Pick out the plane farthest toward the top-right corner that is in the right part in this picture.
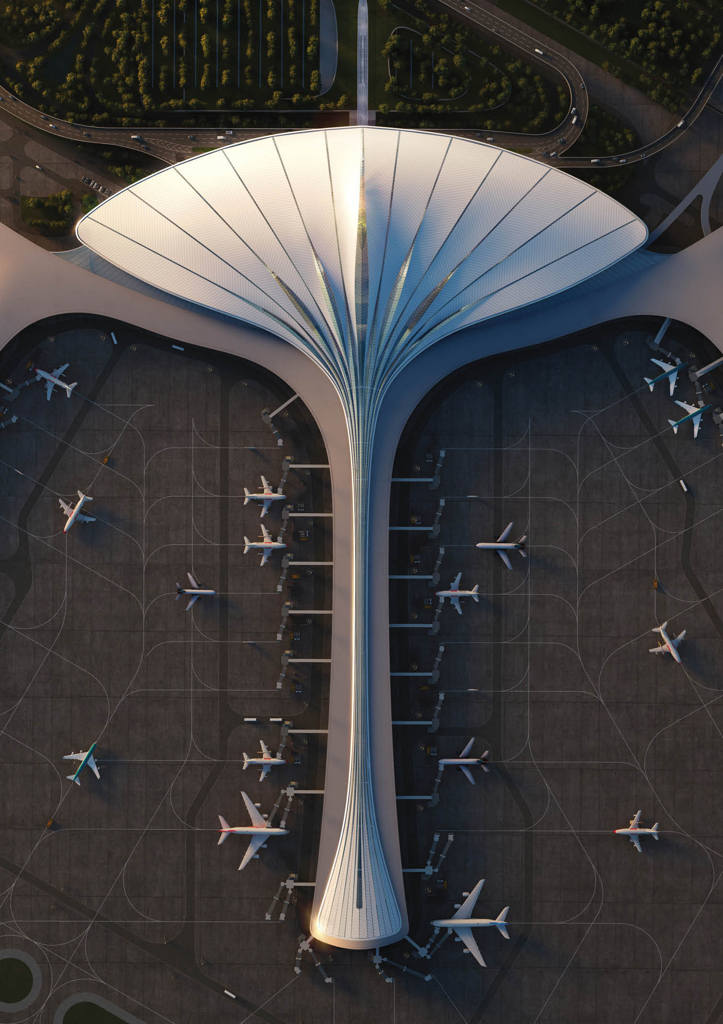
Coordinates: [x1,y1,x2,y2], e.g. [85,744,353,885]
[644,358,689,396]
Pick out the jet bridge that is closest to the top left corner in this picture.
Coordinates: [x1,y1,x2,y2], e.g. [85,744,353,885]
[0,373,43,401]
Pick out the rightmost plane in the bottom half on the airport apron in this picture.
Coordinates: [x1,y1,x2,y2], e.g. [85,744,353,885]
[650,621,688,664]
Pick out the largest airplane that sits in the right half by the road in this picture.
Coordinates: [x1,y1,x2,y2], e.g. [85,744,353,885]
[431,881,510,968]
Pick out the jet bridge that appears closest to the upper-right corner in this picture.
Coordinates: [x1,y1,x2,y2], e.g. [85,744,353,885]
[643,318,683,365]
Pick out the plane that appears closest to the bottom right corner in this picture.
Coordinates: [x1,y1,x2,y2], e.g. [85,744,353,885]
[614,810,661,853]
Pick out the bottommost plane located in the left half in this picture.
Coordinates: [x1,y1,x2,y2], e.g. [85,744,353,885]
[215,792,289,872]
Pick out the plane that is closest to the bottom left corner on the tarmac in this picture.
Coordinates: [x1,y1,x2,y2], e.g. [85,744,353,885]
[61,743,99,788]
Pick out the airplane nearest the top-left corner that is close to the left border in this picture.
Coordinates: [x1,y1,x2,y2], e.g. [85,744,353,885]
[34,363,75,400]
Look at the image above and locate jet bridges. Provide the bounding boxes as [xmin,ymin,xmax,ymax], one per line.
[276,721,328,760]
[389,546,444,587]
[406,926,452,959]
[397,762,444,807]
[368,948,433,982]
[688,358,723,408]
[393,692,444,733]
[403,832,453,880]
[0,415,19,431]
[389,498,444,538]
[389,595,444,635]
[277,602,332,641]
[277,456,330,495]
[276,650,331,689]
[295,932,333,983]
[392,450,444,490]
[0,373,43,401]
[266,779,324,827]
[643,318,683,365]
[260,395,297,446]
[277,505,333,544]
[712,405,723,442]
[391,643,444,684]
[277,554,333,592]
[265,871,315,920]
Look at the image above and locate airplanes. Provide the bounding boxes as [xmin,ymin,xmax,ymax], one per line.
[614,810,661,853]
[434,572,480,615]
[476,521,527,571]
[244,476,288,518]
[431,881,510,968]
[175,572,216,611]
[215,792,289,872]
[667,401,712,439]
[438,737,490,787]
[644,358,689,396]
[61,743,99,788]
[242,740,288,782]
[650,621,688,664]
[57,489,95,533]
[243,525,288,567]
[34,363,75,400]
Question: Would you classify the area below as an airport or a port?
airport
